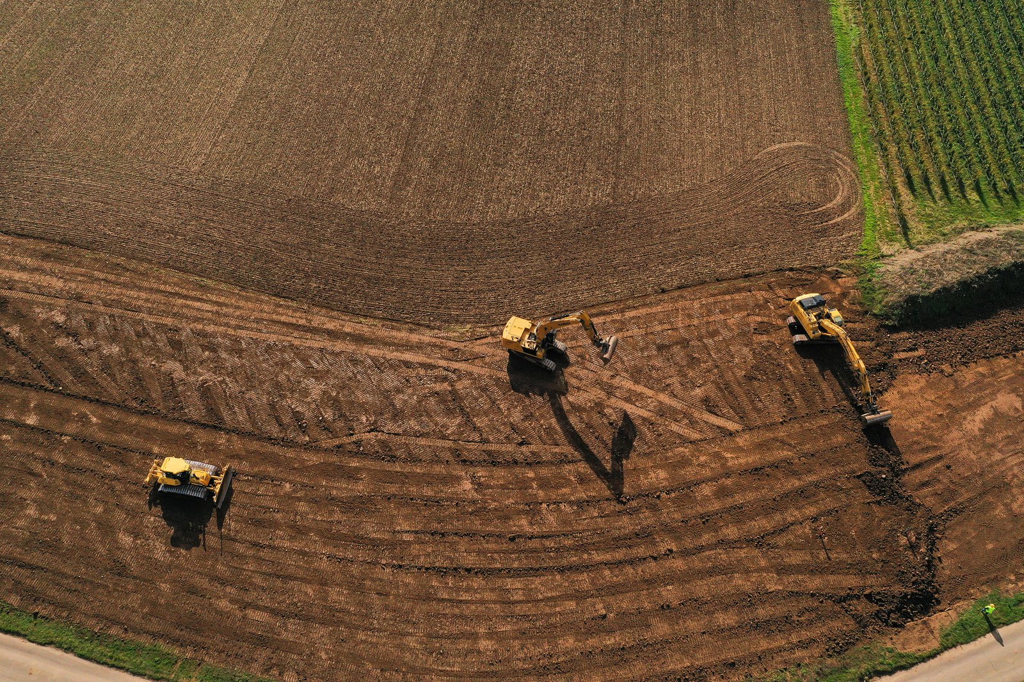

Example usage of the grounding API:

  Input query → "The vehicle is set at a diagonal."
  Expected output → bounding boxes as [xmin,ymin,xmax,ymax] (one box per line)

[789,296,898,423]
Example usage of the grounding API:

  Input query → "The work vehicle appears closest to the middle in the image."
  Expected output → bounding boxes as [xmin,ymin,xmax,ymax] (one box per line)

[506,309,619,371]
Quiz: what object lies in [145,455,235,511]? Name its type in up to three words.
work vehicle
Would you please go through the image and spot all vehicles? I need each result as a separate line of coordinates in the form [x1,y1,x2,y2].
[145,455,235,511]
[506,309,619,371]
[789,296,898,423]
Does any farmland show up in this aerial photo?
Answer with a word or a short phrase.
Yes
